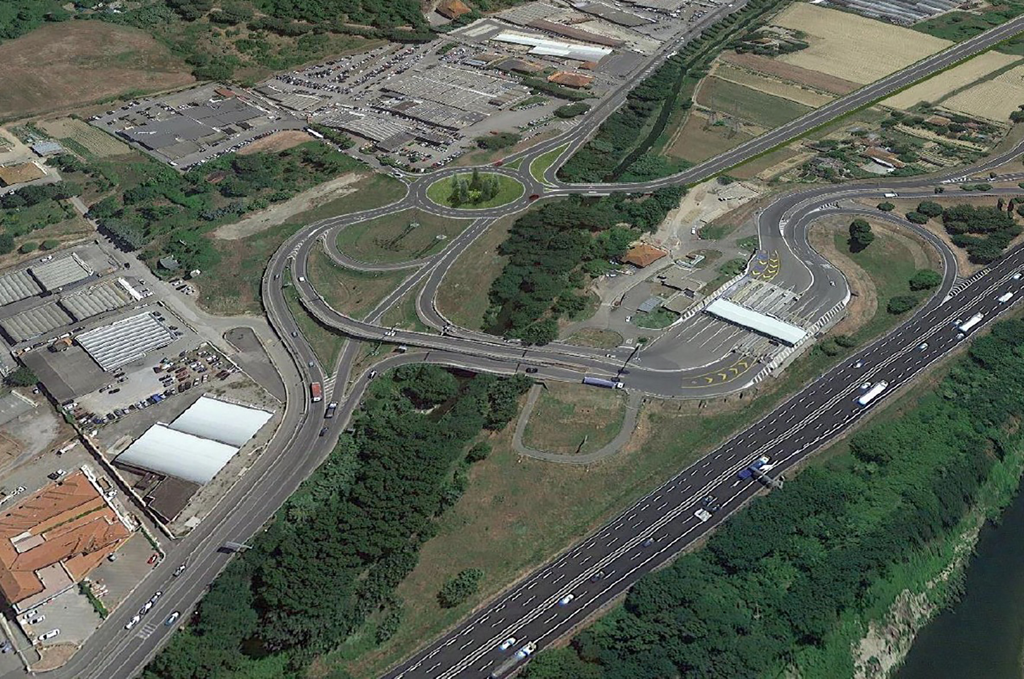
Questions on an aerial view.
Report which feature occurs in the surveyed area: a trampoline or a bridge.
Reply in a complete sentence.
Of the two, only a bridge appears.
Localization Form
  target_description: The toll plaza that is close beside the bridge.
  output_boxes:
[620,239,848,396]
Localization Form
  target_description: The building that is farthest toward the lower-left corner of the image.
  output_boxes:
[0,468,137,616]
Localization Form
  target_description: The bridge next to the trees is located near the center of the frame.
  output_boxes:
[289,248,635,380]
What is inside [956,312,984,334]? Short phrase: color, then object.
white truck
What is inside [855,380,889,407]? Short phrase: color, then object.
white truck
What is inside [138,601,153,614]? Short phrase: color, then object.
gray vehicle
